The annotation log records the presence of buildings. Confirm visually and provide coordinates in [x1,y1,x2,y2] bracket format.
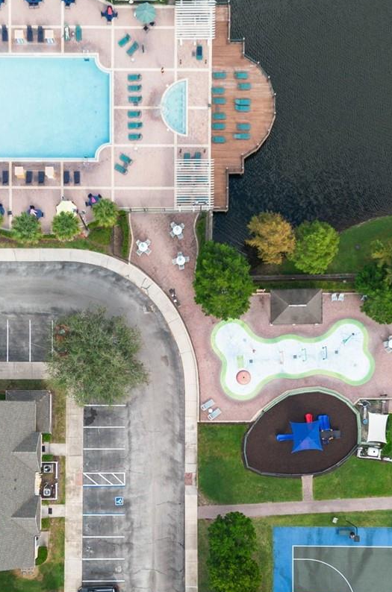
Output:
[0,389,55,573]
[270,289,322,327]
